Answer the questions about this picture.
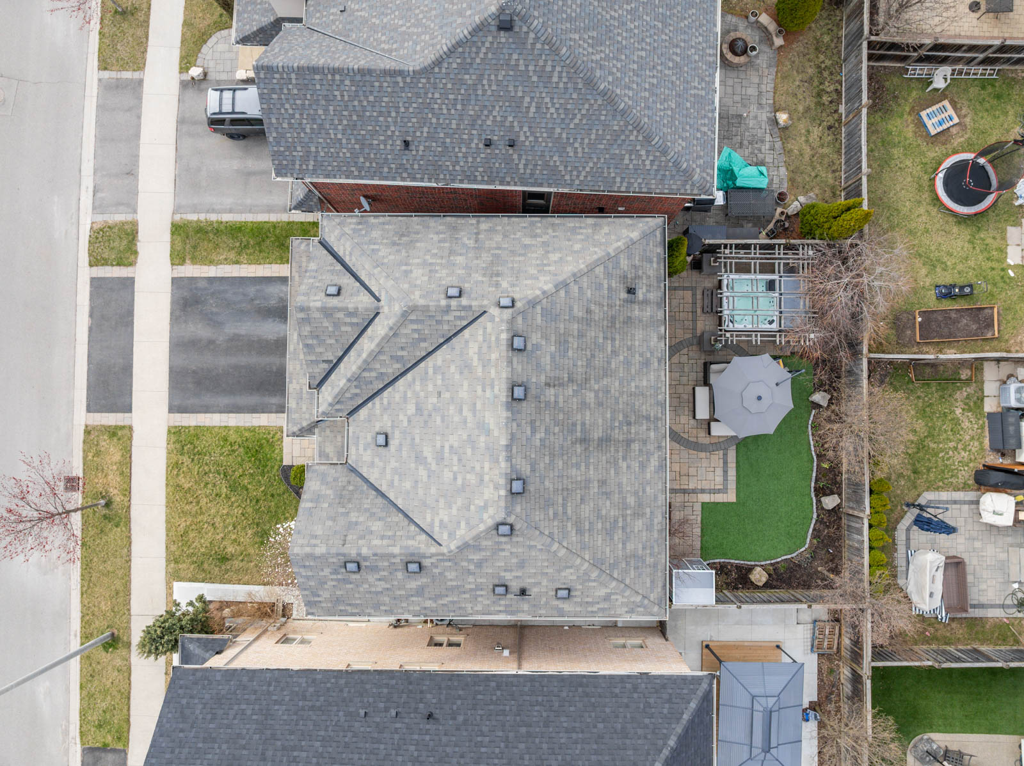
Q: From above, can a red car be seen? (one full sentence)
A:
No, the scene contains no red car.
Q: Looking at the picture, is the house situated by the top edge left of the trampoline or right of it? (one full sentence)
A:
The house situated by the top edge is to the left of the trampoline.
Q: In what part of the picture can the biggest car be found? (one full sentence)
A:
The biggest car is located in the top left region of the scene.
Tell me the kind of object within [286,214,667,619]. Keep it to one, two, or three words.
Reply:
house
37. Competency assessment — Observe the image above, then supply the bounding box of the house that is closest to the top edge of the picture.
[232,0,720,224]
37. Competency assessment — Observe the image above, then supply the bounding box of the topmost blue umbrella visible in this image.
[901,503,958,535]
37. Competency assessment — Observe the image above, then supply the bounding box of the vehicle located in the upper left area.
[210,86,269,143]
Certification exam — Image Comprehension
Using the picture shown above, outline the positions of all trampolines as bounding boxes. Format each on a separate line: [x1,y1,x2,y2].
[928,141,1024,217]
